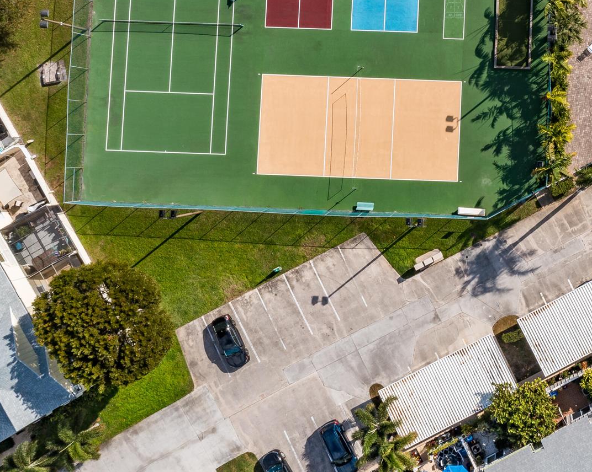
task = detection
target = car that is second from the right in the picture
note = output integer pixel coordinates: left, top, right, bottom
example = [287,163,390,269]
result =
[256,447,287,472]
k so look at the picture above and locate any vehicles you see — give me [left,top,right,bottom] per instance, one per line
[316,420,355,472]
[209,320,246,369]
[256,447,287,472]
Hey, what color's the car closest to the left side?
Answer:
black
